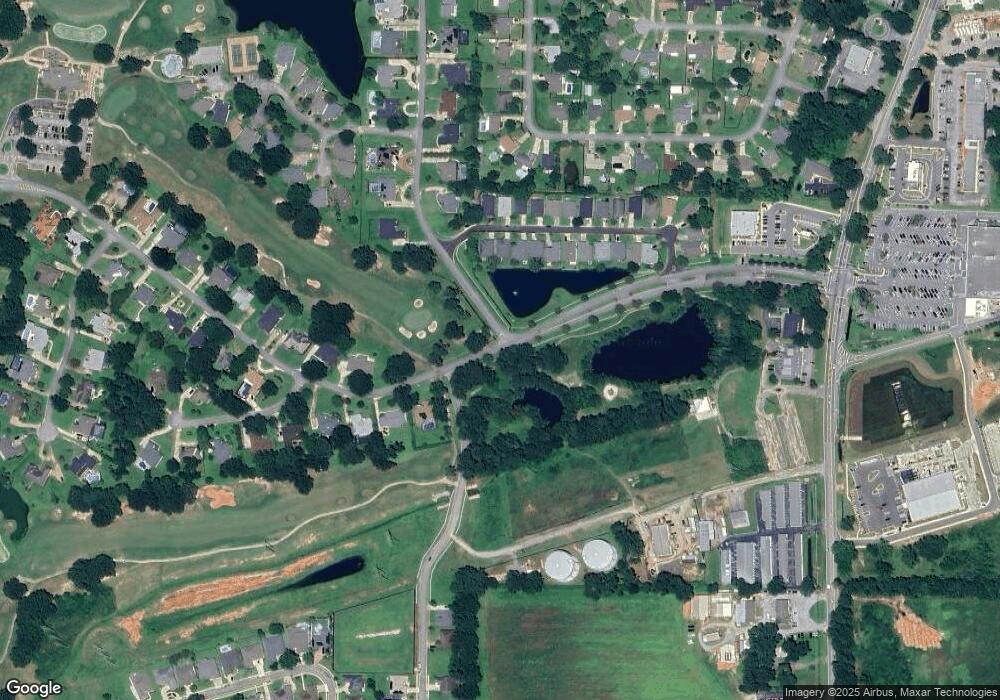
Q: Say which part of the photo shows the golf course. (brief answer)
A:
left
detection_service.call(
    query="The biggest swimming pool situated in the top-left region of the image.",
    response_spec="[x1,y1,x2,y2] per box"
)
[159,53,184,78]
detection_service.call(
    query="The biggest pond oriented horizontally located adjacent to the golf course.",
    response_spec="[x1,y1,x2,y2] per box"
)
[488,268,630,317]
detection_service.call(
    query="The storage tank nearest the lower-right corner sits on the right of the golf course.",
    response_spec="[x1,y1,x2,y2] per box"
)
[583,538,616,572]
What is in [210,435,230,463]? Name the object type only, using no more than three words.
house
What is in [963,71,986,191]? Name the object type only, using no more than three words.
building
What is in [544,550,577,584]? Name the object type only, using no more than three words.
storage tank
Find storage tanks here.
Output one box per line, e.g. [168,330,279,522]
[544,550,577,584]
[583,538,616,572]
